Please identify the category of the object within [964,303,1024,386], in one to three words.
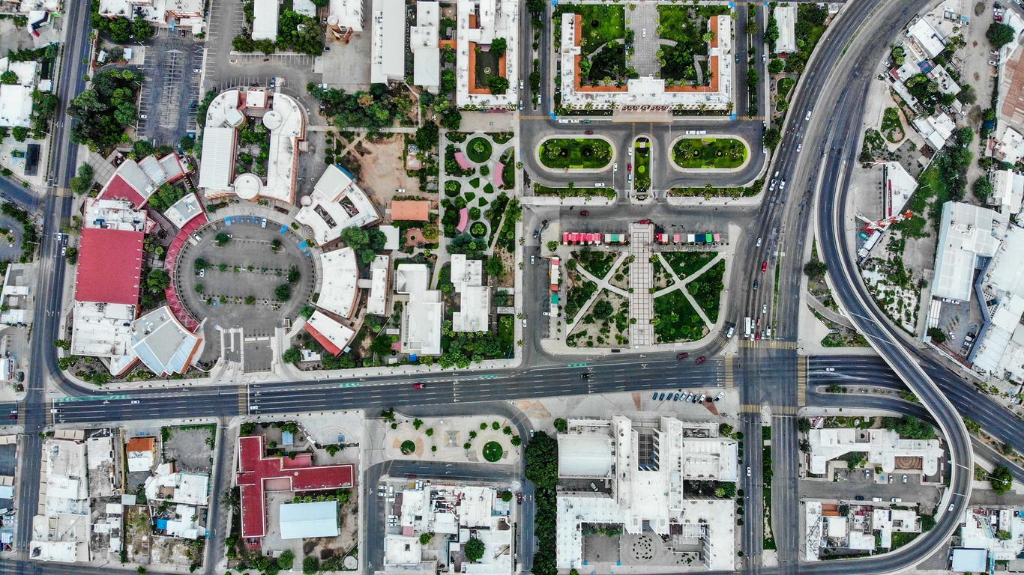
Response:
building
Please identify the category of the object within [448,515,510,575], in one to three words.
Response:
house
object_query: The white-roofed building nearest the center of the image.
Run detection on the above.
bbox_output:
[451,255,491,332]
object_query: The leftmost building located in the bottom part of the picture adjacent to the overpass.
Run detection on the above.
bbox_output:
[556,415,738,570]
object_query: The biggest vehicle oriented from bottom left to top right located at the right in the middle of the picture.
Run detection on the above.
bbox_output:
[856,230,880,259]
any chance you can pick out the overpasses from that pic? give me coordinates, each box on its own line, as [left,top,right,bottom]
[814,153,974,575]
